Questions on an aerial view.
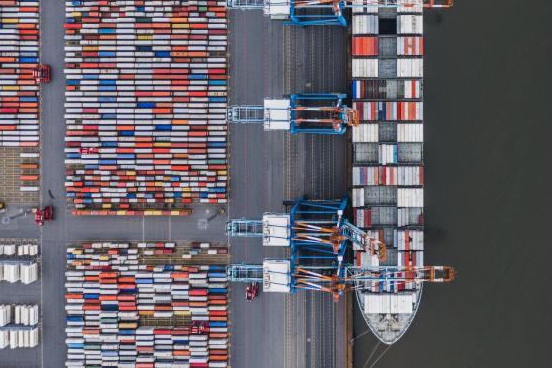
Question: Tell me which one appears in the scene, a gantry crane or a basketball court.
gantry crane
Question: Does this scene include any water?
Yes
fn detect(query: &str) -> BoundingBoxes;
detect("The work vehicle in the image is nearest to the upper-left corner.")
[33,64,50,83]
